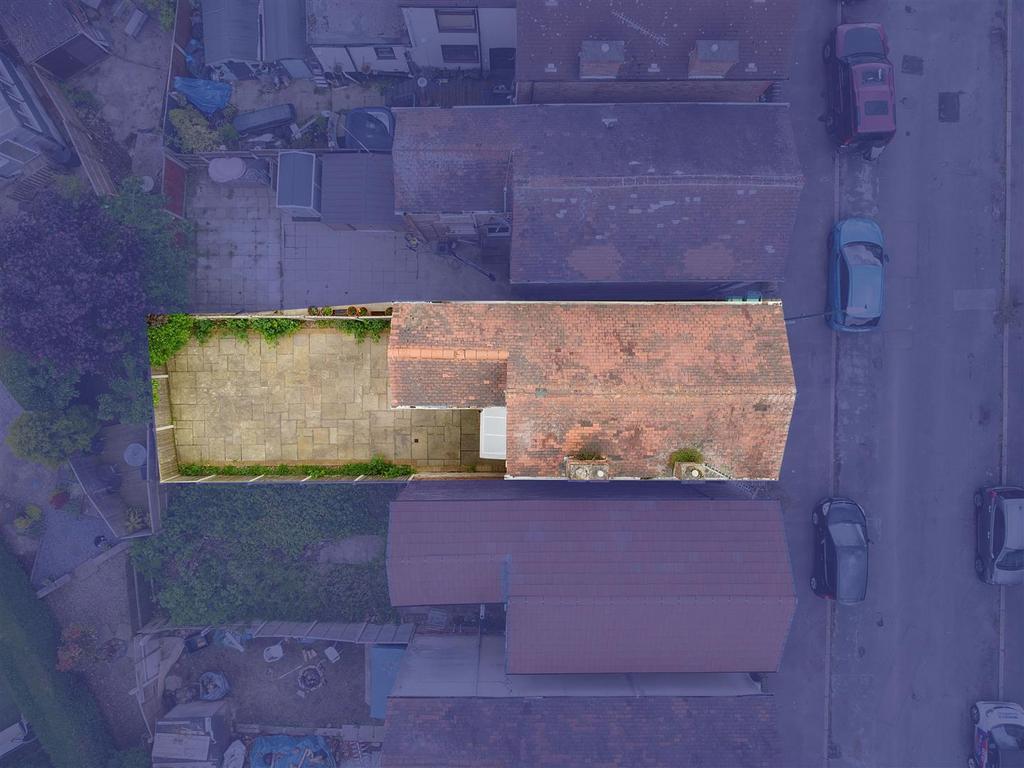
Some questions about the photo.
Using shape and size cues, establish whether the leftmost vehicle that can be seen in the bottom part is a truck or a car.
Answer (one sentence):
It turns out the leftmost vehicle that can be seen in the bottom part is a car.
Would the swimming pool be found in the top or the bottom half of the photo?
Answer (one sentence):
The top half of the photo is where the swimming pool is.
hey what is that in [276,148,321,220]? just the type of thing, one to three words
shed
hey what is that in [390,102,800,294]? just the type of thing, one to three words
house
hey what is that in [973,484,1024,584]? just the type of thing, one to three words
car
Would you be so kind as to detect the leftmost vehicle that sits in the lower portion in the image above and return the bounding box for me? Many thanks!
[811,495,873,604]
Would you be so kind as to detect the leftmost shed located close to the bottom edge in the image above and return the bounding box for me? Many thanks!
[152,700,236,768]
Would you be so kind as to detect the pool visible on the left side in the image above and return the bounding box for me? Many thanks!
[346,107,393,150]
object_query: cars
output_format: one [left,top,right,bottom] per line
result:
[973,484,1024,584]
[968,698,1024,768]
[826,24,895,146]
[827,219,890,332]
[811,495,873,604]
